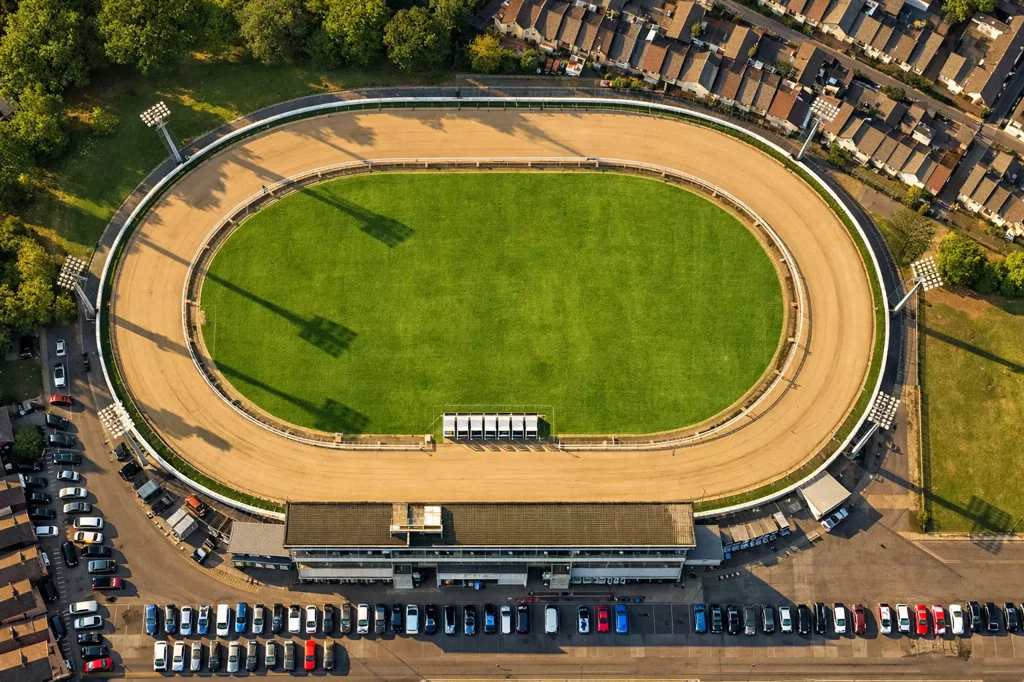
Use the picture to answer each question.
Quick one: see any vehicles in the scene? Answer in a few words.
Yes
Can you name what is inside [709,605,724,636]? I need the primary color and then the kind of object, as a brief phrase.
black car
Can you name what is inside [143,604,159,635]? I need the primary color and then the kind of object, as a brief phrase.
blue car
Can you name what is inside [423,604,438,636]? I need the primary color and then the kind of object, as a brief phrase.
black car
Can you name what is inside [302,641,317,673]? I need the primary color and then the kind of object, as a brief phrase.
red car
